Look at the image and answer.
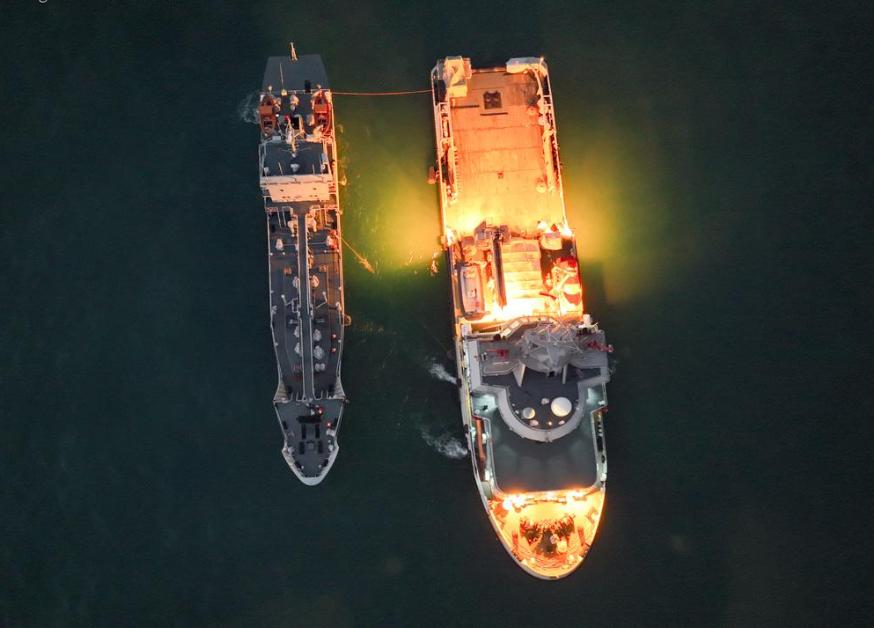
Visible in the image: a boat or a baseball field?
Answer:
boat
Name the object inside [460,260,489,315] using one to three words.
boat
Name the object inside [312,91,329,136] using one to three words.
boat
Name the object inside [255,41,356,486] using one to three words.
ship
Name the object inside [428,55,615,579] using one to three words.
ship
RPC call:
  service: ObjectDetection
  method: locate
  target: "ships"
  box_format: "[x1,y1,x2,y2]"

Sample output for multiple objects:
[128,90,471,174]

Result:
[255,41,356,486]
[428,55,615,579]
